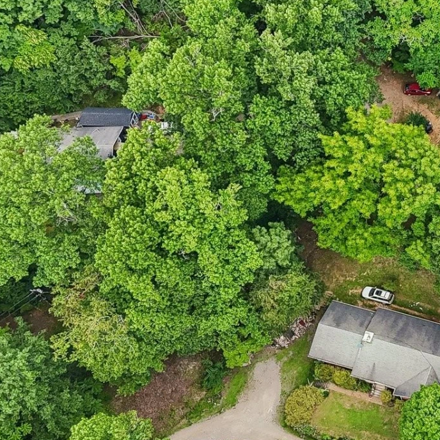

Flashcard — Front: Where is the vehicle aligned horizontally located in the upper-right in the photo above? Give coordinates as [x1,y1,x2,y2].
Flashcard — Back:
[403,82,430,95]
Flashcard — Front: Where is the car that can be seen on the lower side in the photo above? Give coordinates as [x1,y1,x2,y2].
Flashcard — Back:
[361,285,394,306]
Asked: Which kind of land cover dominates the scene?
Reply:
trees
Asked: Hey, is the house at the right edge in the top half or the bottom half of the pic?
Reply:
bottom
